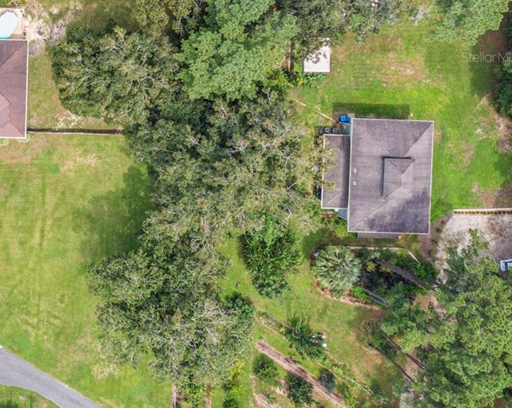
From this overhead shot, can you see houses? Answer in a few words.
Yes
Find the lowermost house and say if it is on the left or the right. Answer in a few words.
right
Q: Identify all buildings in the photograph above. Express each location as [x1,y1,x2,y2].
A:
[0,38,29,139]
[314,118,435,239]
[296,40,330,73]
